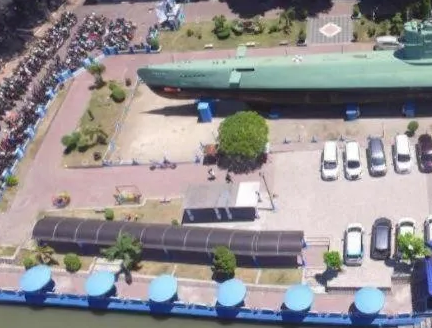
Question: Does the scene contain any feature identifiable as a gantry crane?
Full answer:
No, I find no gantry crane anywhere in the image.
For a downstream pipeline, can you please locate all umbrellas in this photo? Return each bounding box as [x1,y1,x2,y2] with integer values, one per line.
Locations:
[85,271,117,300]
[355,288,384,317]
[284,285,314,315]
[23,266,56,295]
[216,280,248,310]
[148,276,178,304]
